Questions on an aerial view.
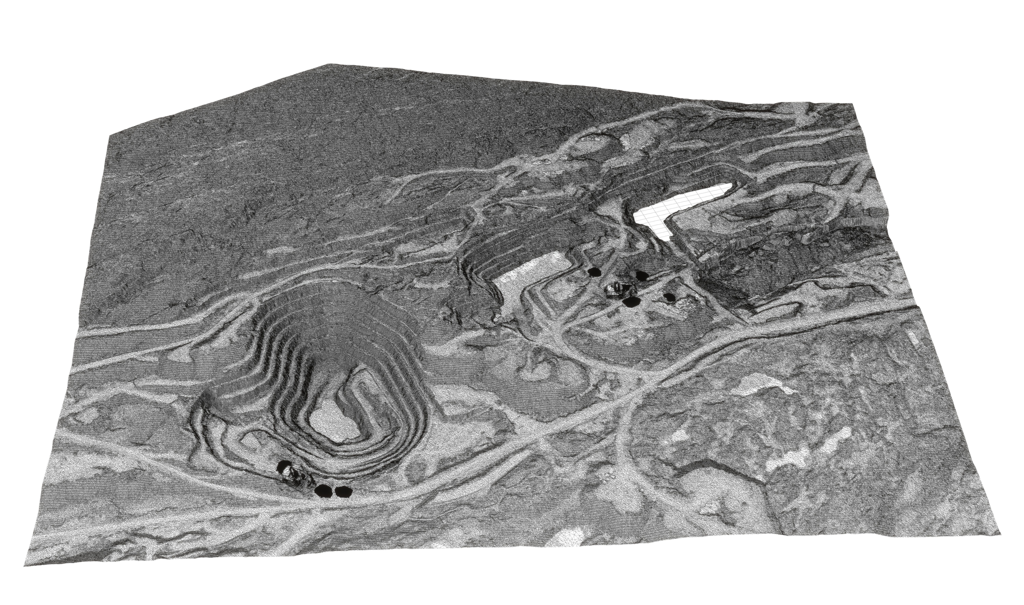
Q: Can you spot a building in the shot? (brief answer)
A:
No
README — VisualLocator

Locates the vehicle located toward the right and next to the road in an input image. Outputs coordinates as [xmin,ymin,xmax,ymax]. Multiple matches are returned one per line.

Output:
[604,283,638,301]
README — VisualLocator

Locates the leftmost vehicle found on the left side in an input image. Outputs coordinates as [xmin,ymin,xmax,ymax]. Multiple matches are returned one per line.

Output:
[278,465,314,490]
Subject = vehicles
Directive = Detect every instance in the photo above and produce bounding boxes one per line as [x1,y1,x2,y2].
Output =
[278,465,314,490]
[604,283,638,301]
